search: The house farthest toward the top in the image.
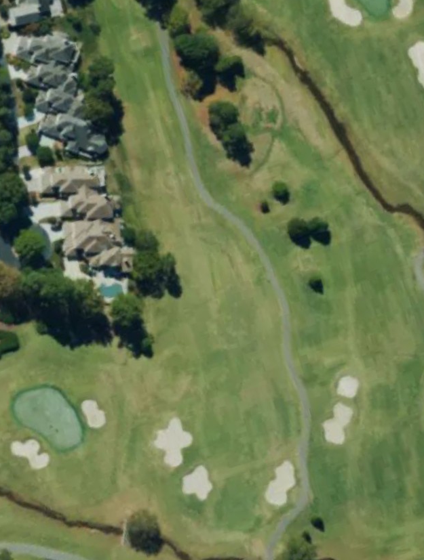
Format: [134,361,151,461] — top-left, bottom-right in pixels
[6,0,47,32]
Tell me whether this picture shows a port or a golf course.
golf course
